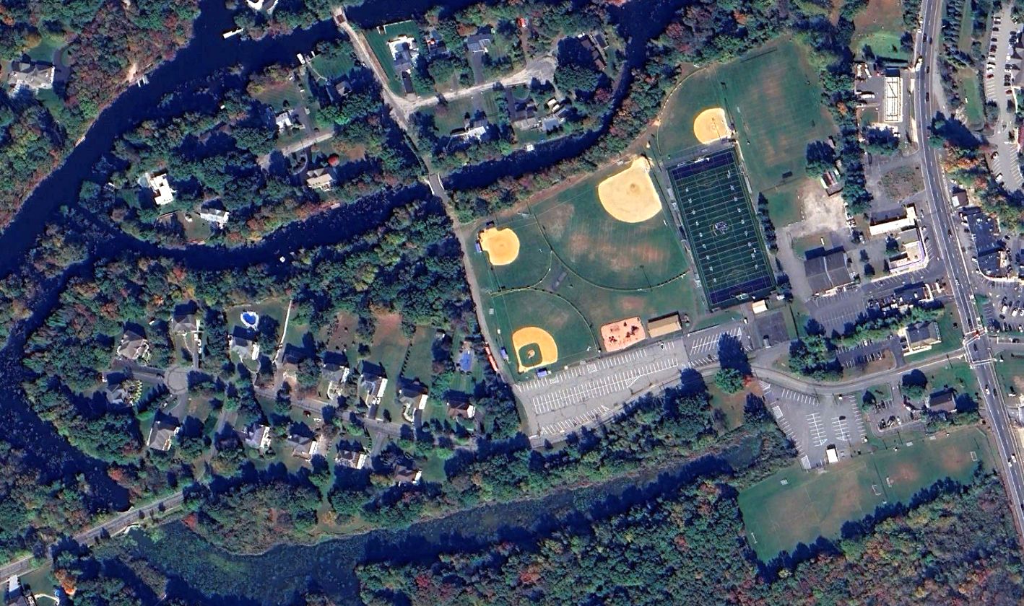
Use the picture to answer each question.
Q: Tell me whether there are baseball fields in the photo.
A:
Yes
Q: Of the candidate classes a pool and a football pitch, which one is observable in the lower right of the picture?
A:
football pitch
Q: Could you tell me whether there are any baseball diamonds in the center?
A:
Yes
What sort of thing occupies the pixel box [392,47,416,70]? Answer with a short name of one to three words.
house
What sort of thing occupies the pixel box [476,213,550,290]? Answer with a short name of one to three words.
baseball field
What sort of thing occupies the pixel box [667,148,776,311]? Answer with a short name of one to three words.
sports field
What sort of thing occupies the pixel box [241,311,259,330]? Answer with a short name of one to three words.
swimming pool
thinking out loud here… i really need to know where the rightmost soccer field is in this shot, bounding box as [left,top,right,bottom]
[870,426,992,522]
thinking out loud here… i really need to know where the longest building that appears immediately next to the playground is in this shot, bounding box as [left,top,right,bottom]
[648,313,684,339]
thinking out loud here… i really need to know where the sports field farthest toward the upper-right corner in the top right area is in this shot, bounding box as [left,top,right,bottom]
[721,36,828,182]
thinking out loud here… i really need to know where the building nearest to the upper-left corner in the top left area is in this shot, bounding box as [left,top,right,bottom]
[9,64,62,90]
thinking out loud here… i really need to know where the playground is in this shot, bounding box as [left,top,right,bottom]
[601,317,646,352]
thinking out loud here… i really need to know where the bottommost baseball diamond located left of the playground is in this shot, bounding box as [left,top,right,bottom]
[498,290,599,380]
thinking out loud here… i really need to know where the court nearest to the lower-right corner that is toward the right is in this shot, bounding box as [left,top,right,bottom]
[755,310,787,344]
